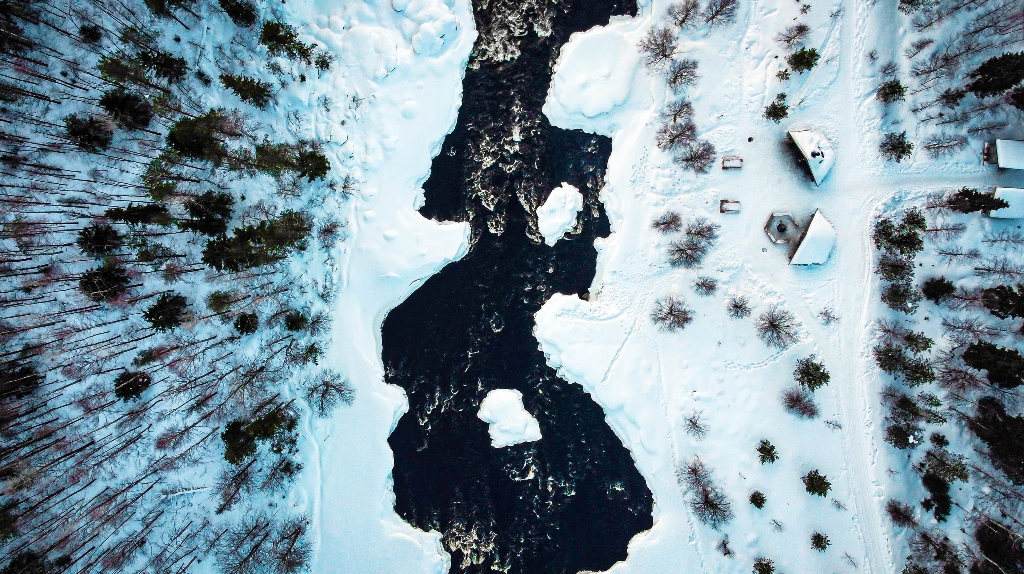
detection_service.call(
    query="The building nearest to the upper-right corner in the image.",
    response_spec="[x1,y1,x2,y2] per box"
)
[981,139,1024,171]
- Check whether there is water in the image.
Yes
